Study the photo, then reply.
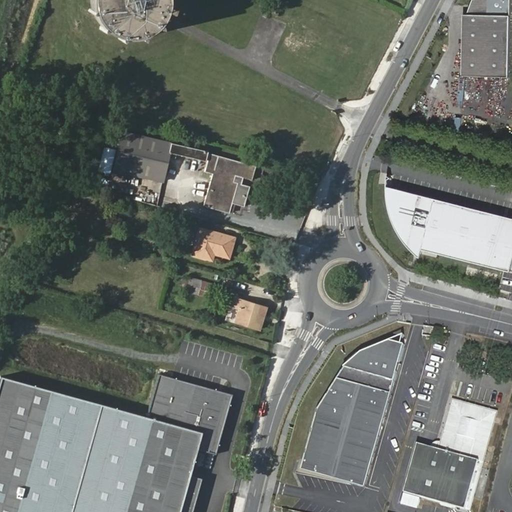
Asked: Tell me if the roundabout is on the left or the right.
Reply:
right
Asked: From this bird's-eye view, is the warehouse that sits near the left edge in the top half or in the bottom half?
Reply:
bottom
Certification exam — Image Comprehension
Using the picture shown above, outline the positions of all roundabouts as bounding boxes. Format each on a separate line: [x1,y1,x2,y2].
[300,241,386,327]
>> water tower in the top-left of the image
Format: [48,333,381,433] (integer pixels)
[87,0,178,45]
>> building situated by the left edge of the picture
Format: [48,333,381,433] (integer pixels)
[0,375,202,512]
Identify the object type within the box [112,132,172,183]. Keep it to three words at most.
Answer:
barn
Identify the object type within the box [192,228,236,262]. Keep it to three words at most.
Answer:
house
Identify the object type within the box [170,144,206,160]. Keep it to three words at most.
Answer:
building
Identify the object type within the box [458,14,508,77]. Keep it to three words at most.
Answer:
building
